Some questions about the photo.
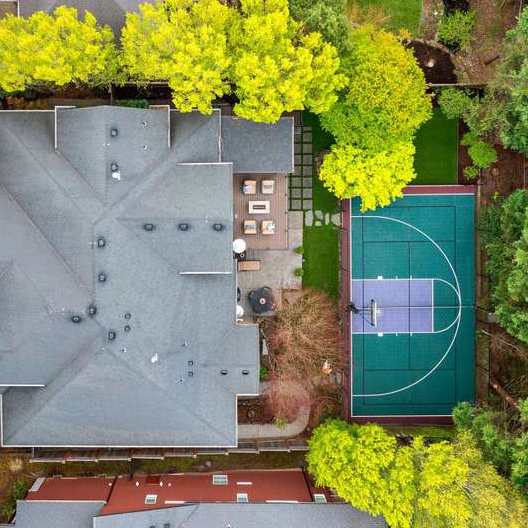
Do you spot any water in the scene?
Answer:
No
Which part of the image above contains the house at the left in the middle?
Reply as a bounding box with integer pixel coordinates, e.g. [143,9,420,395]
[0,105,262,448]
